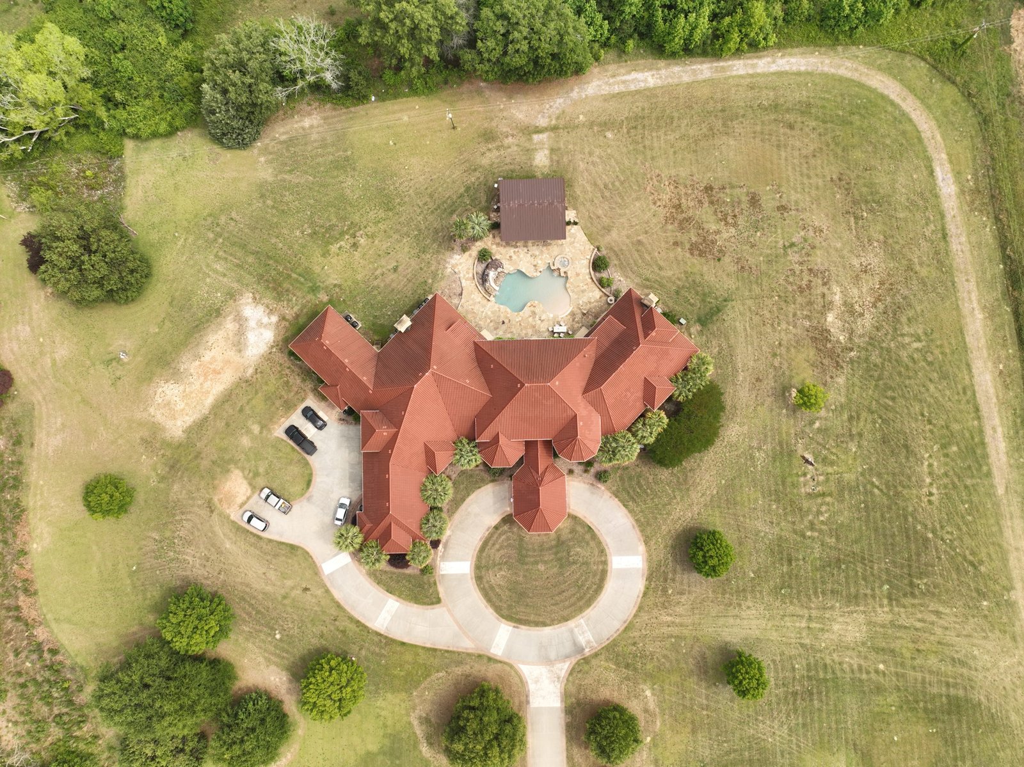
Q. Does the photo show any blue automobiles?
No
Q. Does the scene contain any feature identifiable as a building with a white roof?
No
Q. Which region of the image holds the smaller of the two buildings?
top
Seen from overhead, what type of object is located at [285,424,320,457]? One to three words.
truck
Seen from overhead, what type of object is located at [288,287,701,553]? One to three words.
house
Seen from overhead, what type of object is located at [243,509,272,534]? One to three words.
car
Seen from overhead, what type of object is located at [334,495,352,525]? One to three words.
car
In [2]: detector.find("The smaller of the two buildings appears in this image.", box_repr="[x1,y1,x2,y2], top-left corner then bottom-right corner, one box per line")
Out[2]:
[499,178,566,241]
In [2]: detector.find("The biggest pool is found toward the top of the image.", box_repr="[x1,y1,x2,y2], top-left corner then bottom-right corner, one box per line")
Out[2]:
[494,263,572,317]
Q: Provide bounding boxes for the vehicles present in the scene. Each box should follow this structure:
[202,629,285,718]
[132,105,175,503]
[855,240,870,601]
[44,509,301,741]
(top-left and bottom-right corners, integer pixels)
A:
[302,405,330,433]
[334,495,352,525]
[260,485,295,517]
[285,424,320,457]
[243,509,272,534]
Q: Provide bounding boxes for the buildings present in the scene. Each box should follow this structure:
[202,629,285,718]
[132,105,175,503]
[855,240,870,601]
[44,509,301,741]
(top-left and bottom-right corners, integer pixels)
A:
[288,287,701,553]
[499,178,566,241]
